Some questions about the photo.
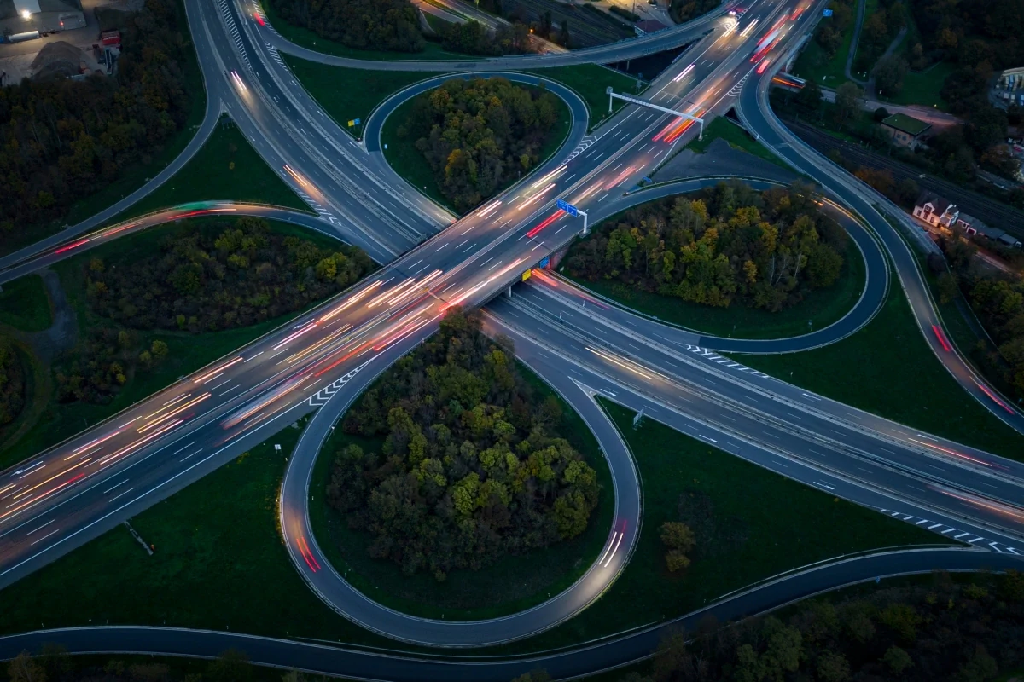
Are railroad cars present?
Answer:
No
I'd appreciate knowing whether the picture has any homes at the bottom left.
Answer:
No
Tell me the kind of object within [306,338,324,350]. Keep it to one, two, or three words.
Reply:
vehicle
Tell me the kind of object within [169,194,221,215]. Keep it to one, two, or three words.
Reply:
truck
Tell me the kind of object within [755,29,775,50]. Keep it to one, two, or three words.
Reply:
vehicle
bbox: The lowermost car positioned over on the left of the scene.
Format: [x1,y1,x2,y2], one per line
[299,543,314,562]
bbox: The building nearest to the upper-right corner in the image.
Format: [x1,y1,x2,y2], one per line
[883,123,930,156]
